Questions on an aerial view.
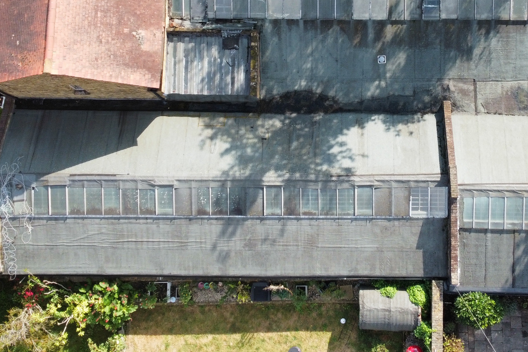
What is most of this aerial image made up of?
buildings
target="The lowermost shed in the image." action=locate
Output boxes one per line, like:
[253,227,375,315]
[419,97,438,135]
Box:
[359,288,423,331]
